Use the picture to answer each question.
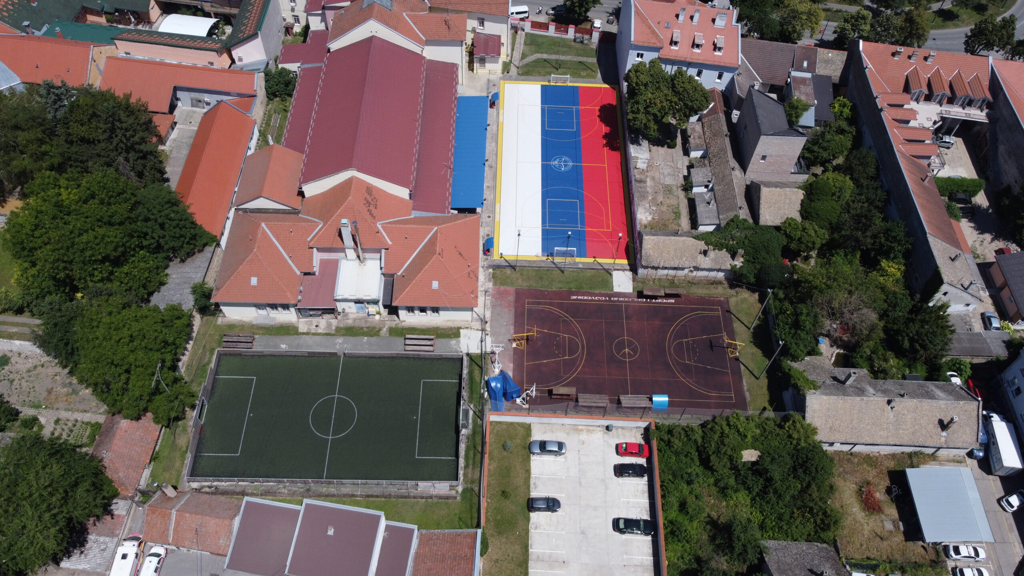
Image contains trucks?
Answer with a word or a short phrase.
Yes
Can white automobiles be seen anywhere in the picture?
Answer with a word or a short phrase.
Yes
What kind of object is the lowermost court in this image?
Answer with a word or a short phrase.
basketball court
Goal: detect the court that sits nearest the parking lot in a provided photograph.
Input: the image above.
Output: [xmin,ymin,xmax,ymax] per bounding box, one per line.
[490,286,749,413]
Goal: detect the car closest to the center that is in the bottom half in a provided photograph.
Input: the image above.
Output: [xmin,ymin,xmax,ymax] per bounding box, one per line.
[529,438,566,457]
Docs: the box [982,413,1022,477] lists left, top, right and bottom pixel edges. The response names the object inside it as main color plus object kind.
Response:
white truck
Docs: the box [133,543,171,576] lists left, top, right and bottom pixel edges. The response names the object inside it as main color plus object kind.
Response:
white van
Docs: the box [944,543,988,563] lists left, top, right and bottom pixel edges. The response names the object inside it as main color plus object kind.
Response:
white car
